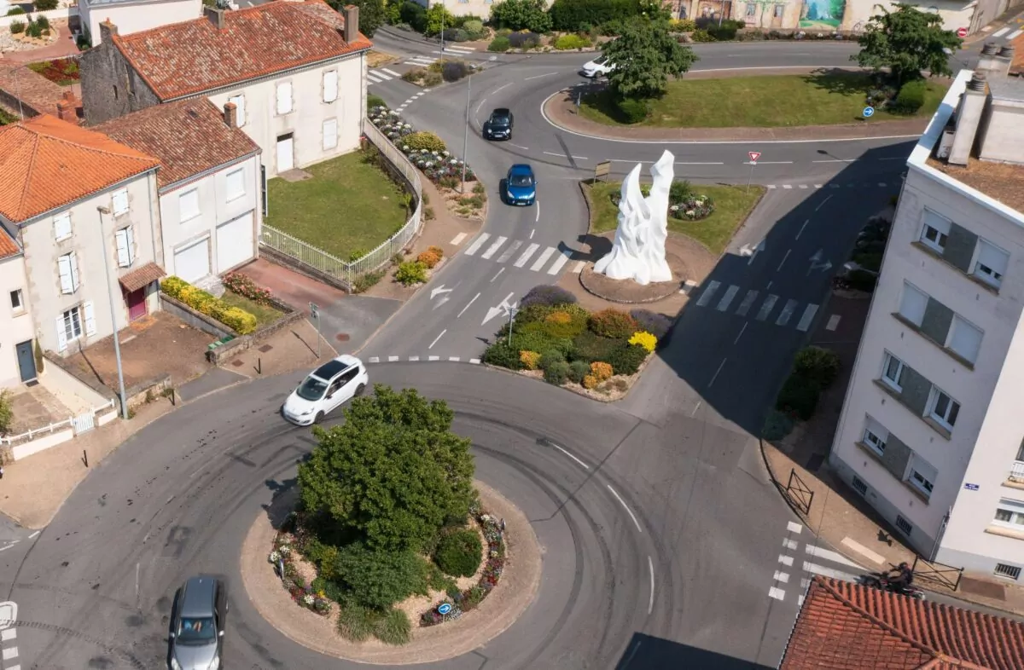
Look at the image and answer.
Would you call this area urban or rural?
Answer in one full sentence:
From above, the setting appears urban.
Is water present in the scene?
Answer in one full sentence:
No, the picture contains no water.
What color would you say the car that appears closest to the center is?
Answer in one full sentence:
In this view, the car that appears closest to the center is blue.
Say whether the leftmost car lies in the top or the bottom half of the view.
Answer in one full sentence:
The leftmost car is in the bottom half of the image.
